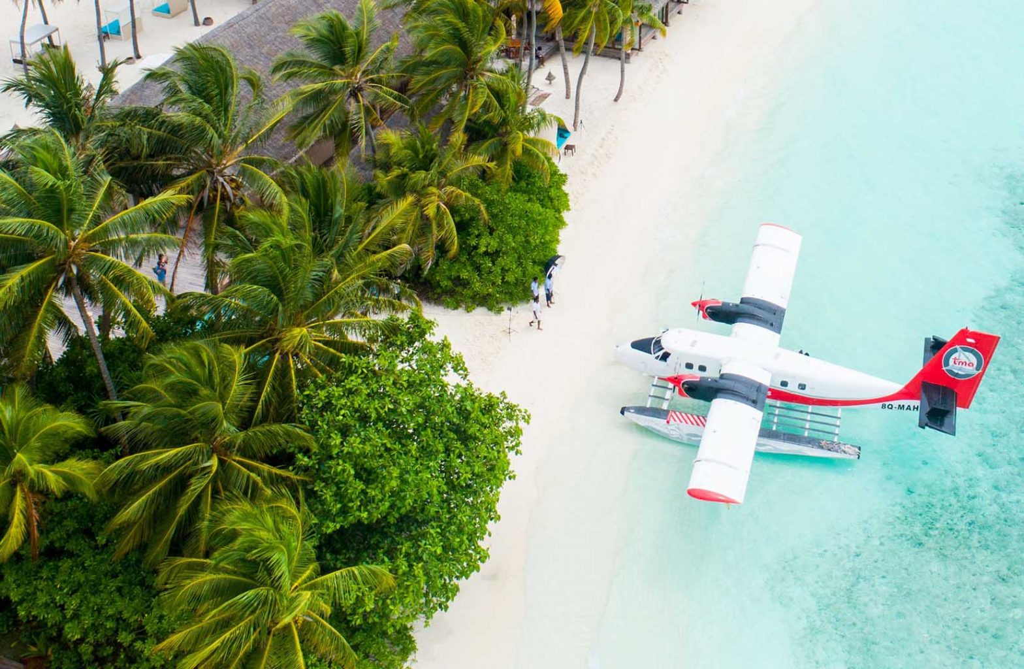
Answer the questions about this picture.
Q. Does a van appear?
No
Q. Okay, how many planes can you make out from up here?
one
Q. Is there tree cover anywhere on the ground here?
Yes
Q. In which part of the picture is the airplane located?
right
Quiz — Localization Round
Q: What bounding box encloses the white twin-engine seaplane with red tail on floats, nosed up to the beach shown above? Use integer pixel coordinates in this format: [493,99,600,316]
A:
[614,224,999,507]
